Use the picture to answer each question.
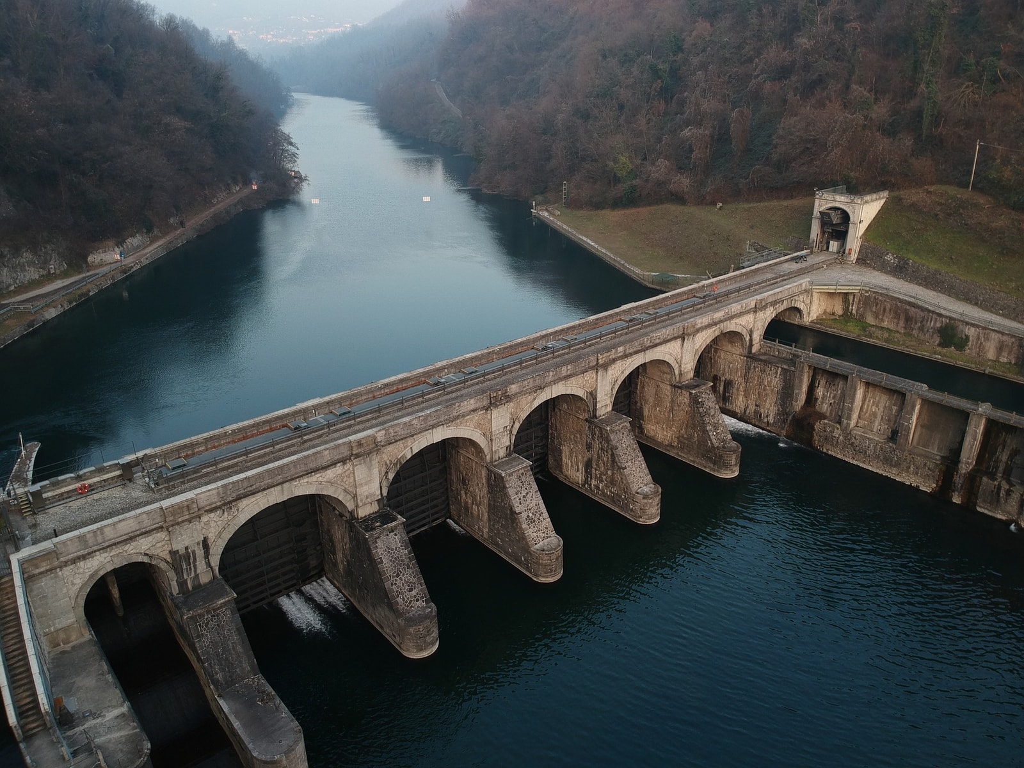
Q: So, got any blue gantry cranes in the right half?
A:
No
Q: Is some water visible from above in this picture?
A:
Yes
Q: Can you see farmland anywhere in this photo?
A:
No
